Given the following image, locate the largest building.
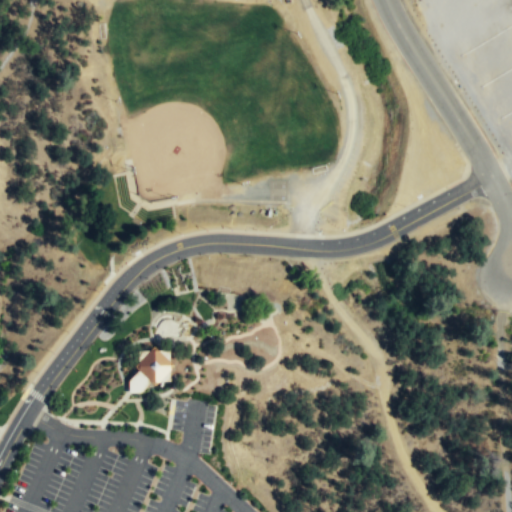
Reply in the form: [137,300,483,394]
[128,346,175,394]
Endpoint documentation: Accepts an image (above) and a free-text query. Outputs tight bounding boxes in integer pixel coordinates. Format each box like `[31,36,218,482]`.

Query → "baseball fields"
[109,0,340,201]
